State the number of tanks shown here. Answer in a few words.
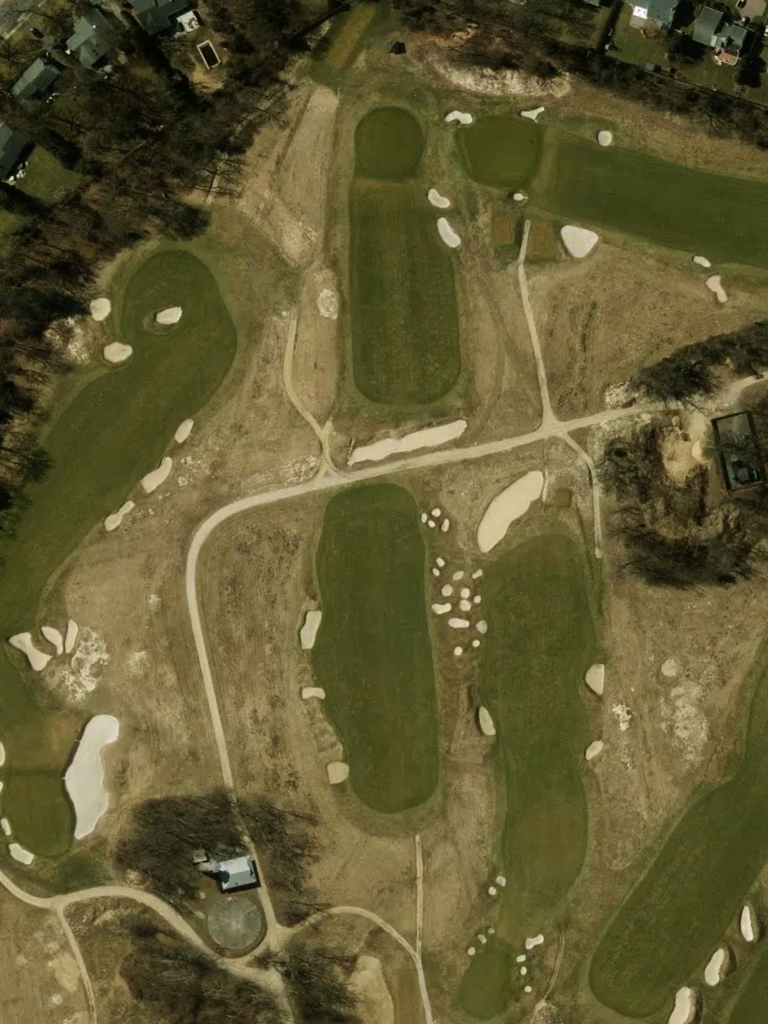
1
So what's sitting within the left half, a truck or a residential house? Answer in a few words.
residential house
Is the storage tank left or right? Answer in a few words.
left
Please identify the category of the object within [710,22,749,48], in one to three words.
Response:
house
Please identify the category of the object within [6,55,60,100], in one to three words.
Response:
house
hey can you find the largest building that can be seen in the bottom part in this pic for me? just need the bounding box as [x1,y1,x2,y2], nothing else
[198,858,258,890]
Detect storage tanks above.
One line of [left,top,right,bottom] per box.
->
[209,898,262,951]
